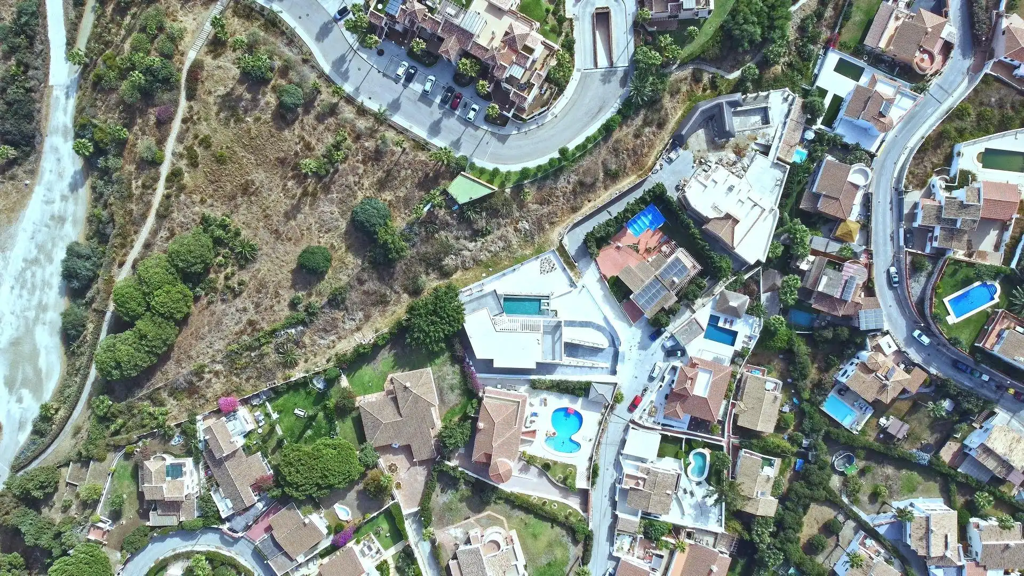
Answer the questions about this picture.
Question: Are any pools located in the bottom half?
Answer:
Yes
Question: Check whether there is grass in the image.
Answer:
Yes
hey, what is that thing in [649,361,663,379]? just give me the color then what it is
white car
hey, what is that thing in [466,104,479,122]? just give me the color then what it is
white vehicle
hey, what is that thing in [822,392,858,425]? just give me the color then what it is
blue swimming pool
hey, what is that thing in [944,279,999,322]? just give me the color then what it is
blue swimming pool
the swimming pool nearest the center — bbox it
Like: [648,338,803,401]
[502,297,543,316]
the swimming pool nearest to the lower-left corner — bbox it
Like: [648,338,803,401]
[167,464,184,479]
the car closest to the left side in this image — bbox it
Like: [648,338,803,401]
[250,498,268,514]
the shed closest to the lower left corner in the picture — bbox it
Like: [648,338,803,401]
[87,515,120,543]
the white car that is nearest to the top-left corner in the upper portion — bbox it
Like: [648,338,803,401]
[395,60,410,79]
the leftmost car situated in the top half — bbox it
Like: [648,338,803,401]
[334,5,351,22]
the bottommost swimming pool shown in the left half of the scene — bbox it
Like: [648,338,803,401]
[333,504,352,520]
